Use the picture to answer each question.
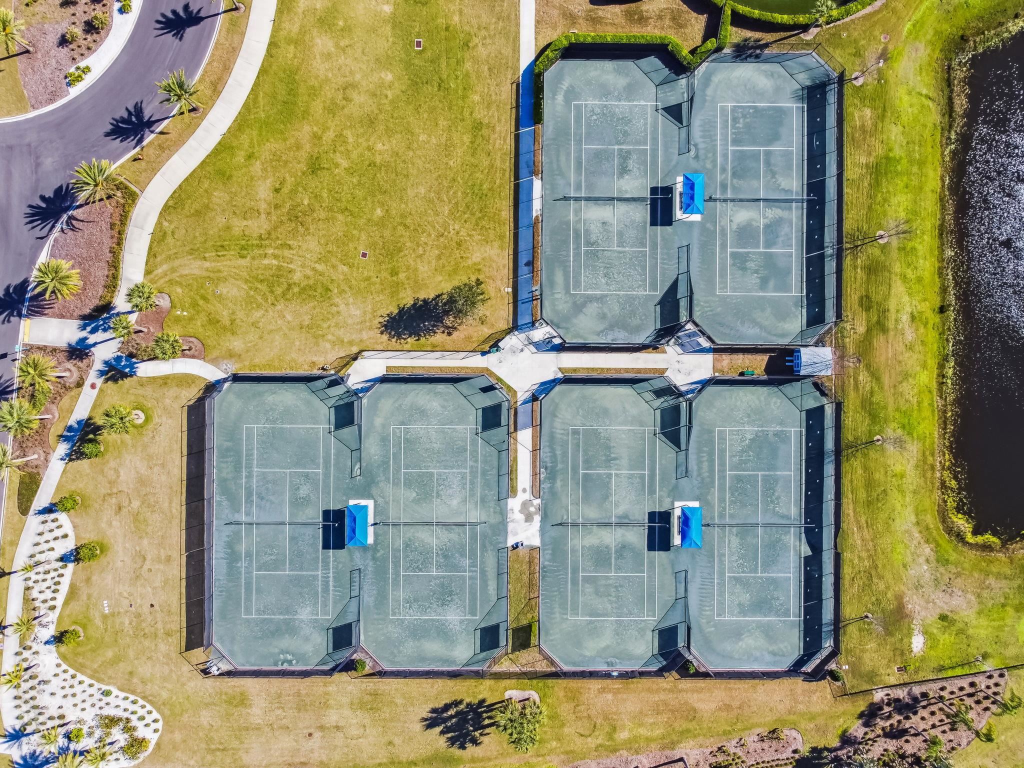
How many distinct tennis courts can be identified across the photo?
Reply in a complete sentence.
In total, there are 6 tennis courts in the scene.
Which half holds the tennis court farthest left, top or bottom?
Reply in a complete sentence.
The tennis court farthest left sits in the bottom half of the picture.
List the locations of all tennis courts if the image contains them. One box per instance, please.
[540,376,687,670]
[685,377,833,671]
[689,53,835,346]
[212,374,361,670]
[542,52,689,344]
[360,375,509,670]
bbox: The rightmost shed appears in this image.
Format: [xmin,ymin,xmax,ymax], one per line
[786,346,834,375]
